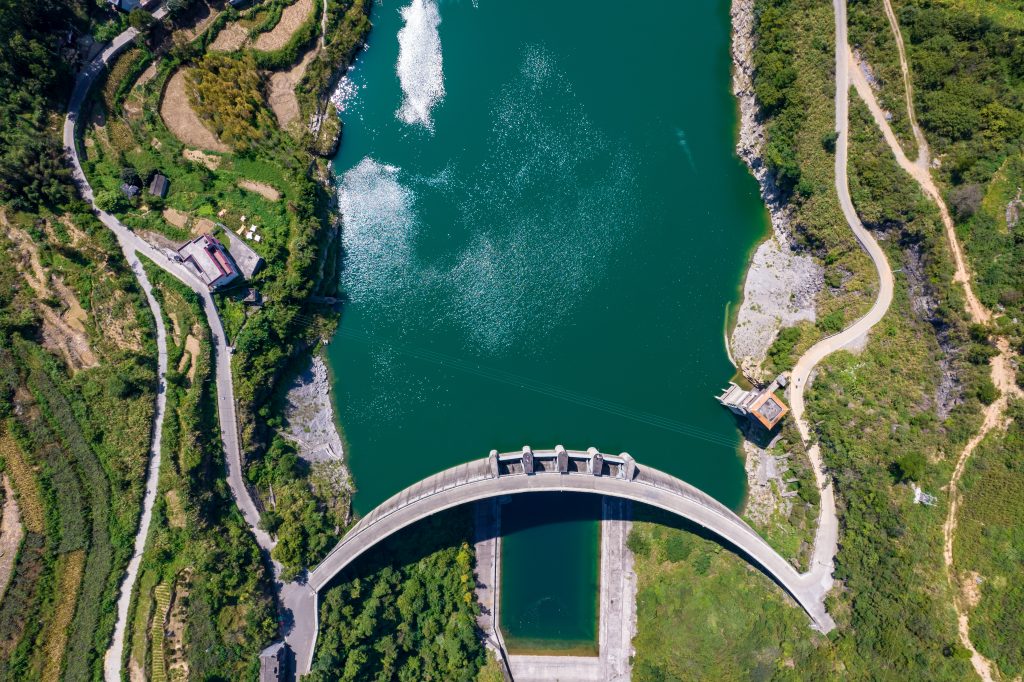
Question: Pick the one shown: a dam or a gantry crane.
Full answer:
Looking from above, you can make out a dam.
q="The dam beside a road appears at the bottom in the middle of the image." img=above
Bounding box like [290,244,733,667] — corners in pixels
[304,443,836,627]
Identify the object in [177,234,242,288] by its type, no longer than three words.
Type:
house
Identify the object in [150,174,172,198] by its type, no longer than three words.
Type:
shed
